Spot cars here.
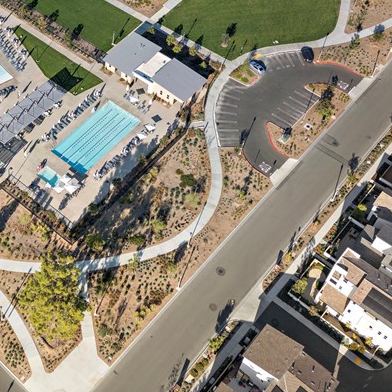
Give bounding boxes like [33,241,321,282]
[251,59,267,72]
[303,45,313,59]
